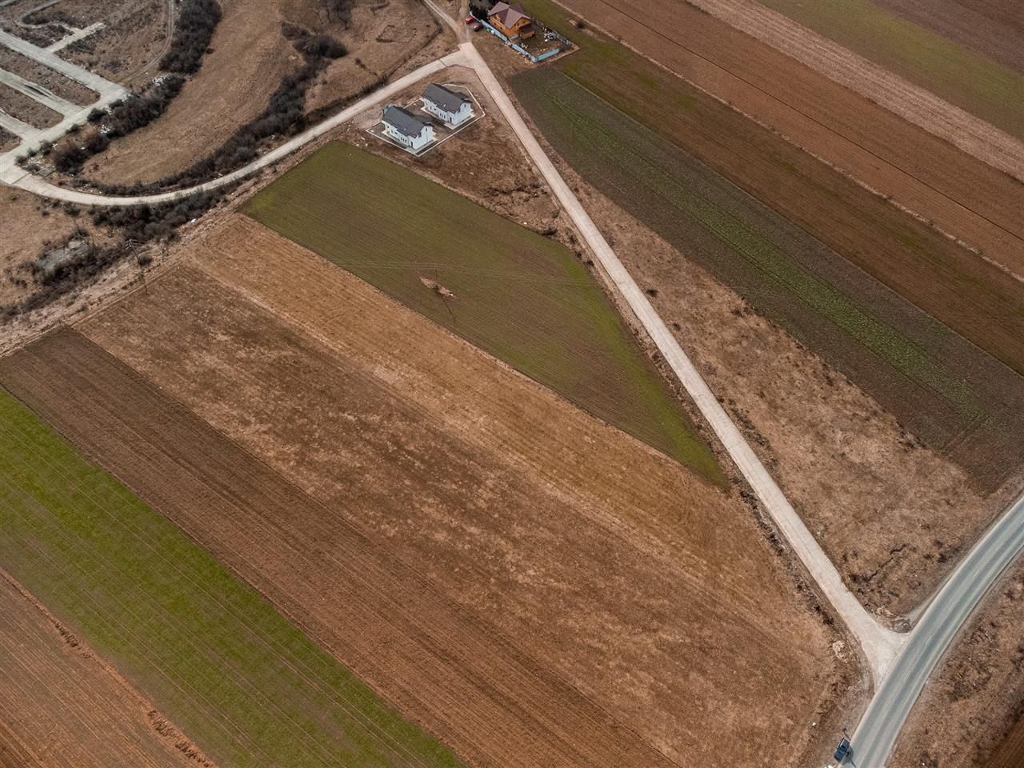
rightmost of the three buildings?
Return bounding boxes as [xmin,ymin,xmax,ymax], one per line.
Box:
[490,4,534,41]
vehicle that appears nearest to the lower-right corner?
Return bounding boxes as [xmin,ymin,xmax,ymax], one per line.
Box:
[835,737,853,761]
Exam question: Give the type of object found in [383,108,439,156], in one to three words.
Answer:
house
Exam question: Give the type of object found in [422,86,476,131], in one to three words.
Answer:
house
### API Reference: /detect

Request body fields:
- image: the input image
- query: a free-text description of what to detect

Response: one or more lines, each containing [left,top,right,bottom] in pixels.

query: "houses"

[422,86,476,131]
[490,4,534,41]
[383,108,439,156]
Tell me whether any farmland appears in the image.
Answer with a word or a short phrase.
Yes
